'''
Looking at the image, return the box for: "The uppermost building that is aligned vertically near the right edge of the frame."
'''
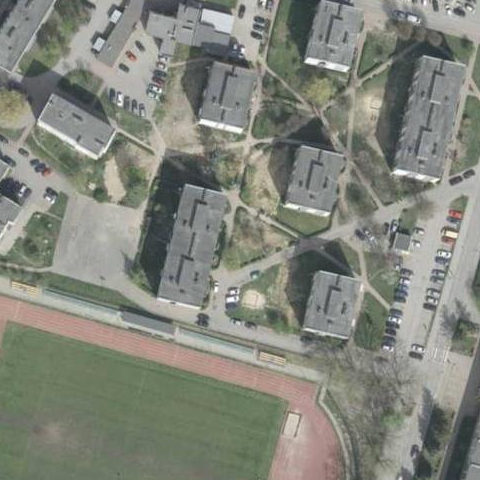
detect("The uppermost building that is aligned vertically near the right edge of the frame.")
[392,55,466,182]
